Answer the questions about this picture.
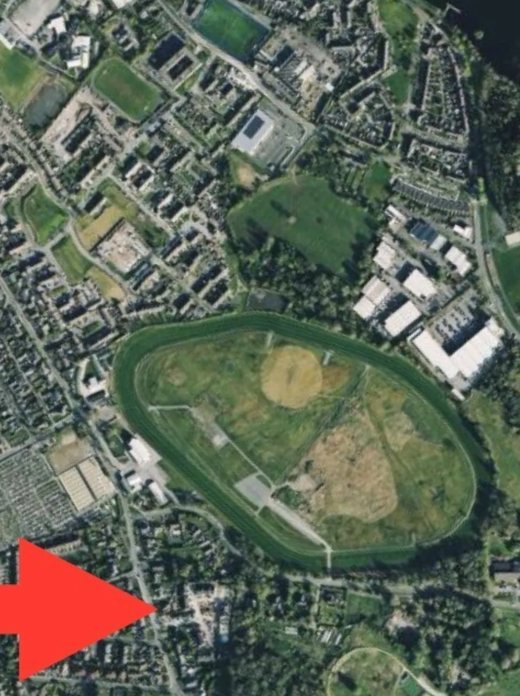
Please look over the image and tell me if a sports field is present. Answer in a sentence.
Yes, there is a sports field in the image.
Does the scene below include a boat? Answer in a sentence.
No, there isn't any boat down there.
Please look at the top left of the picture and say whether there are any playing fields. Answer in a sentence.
Yes, a playing field appears at the top left of the picture.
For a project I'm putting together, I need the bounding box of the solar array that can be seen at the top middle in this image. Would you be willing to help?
[243,119,265,143]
